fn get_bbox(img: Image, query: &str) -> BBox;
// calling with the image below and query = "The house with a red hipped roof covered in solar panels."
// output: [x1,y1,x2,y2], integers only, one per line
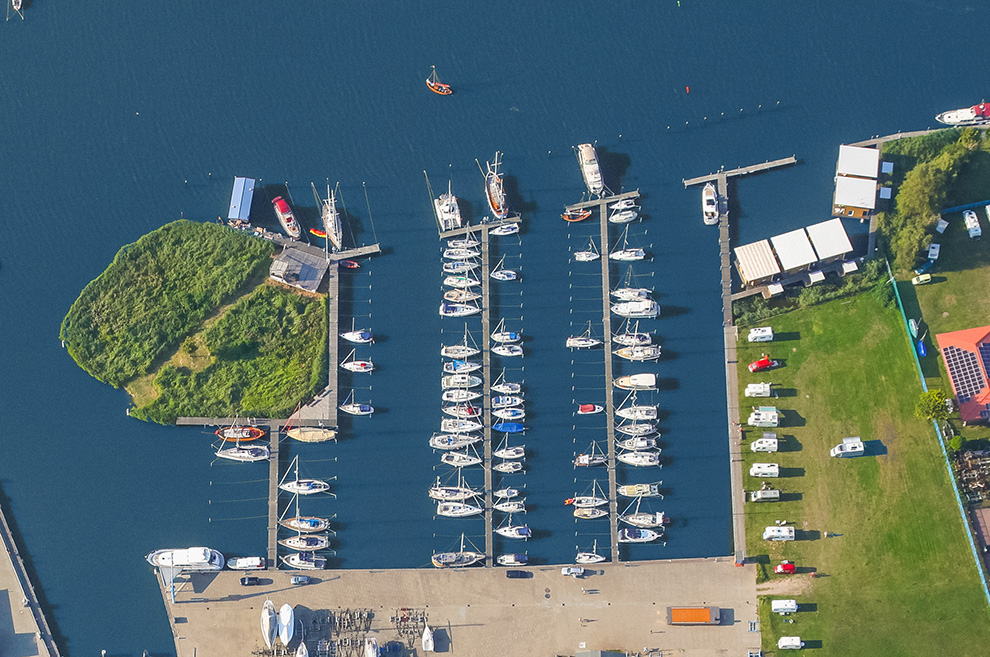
[936,324,990,421]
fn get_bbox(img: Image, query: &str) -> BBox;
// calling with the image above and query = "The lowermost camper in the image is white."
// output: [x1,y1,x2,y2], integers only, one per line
[777,639,805,651]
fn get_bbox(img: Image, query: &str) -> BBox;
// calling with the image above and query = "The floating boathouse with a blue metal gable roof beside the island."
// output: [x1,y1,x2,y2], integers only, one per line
[226,177,257,224]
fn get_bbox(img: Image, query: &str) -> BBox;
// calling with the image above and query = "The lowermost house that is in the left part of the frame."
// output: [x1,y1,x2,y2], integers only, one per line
[270,246,330,295]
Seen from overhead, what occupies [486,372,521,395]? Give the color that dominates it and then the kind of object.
white boat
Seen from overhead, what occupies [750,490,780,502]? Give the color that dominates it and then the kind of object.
white vehicle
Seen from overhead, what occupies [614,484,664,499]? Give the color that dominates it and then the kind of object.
white boat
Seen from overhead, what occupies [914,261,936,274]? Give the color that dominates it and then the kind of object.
blue vehicle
